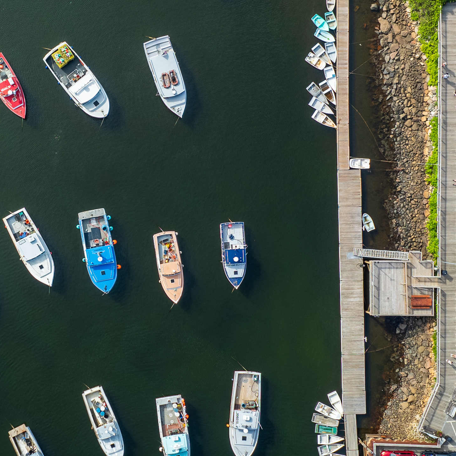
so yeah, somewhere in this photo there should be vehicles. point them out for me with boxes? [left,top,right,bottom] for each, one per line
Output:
[419,449,456,456]
[380,450,416,456]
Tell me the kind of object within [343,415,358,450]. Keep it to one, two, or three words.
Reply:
pier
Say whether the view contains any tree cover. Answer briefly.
No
